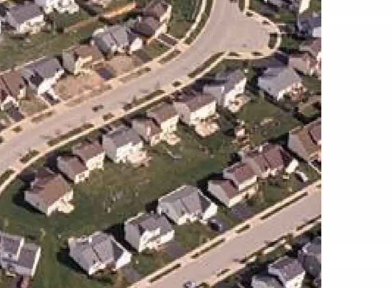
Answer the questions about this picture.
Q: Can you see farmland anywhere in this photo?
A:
No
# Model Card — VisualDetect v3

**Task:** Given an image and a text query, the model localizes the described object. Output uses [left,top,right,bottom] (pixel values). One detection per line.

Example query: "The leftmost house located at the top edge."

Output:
[0,5,45,42]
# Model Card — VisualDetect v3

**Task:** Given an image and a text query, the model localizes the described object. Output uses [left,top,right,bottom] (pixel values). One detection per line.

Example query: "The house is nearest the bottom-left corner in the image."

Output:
[0,242,43,288]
